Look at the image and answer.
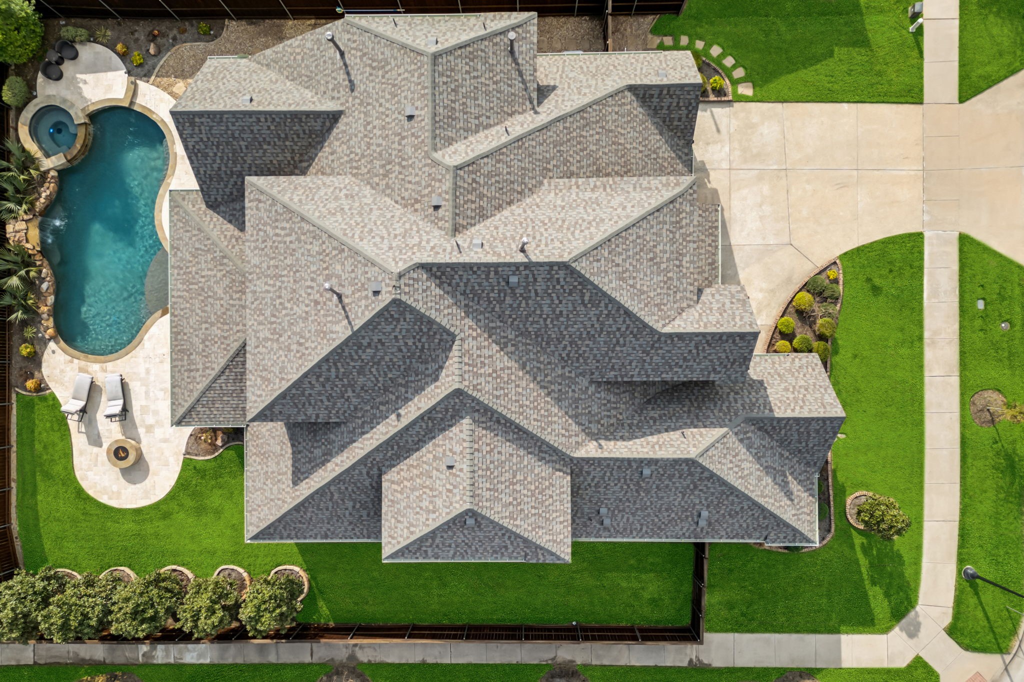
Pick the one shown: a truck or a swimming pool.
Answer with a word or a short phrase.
swimming pool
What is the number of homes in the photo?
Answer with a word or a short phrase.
one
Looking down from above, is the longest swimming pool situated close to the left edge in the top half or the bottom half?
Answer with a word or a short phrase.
top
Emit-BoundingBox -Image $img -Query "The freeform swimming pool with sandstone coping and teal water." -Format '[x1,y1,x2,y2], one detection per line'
[41,75,176,363]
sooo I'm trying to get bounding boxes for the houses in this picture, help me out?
[168,10,846,566]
